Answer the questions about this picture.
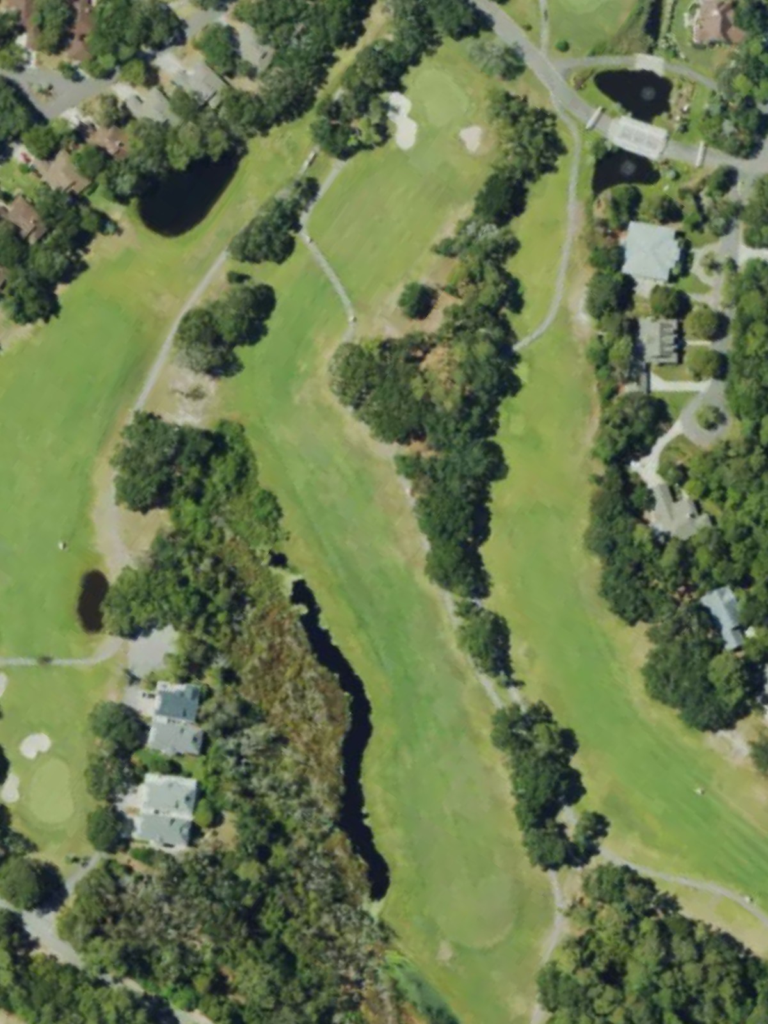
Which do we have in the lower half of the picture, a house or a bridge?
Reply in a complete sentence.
You can see a house in the lower half of the picture.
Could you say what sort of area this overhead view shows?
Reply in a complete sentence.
The picture captures a golf course.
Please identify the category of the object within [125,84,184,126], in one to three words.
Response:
house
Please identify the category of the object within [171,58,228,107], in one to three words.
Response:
house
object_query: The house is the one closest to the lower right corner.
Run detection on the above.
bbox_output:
[699,582,747,650]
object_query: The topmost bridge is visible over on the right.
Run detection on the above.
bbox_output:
[634,54,666,78]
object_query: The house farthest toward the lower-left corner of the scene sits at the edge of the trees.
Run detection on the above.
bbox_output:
[130,811,191,851]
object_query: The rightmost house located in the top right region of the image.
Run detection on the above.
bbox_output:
[694,0,748,42]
